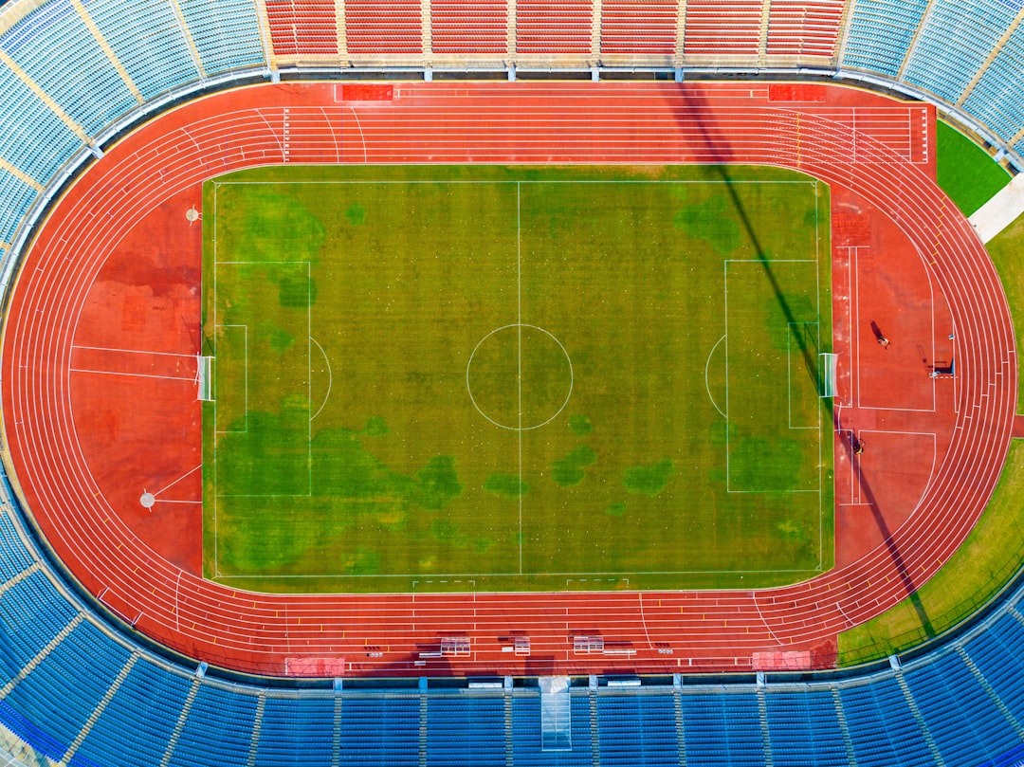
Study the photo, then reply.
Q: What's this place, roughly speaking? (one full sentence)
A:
This image shows a sports ground.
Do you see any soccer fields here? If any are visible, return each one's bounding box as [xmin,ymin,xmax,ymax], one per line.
[202,165,835,593]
